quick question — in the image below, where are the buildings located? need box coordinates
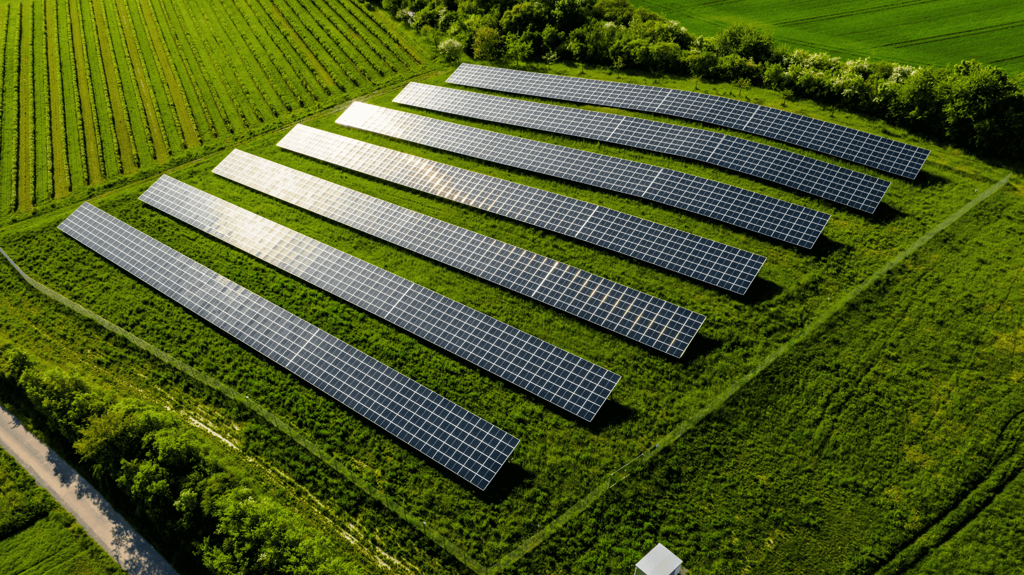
[635,544,683,575]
